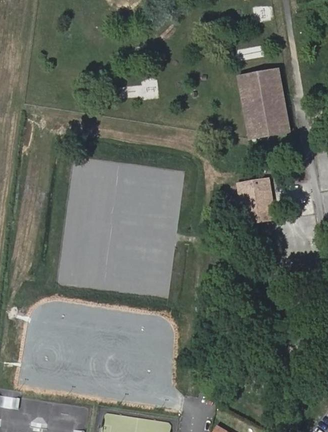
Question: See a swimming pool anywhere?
No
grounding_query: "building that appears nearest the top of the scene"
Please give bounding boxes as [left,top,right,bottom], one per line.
[236,68,292,139]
